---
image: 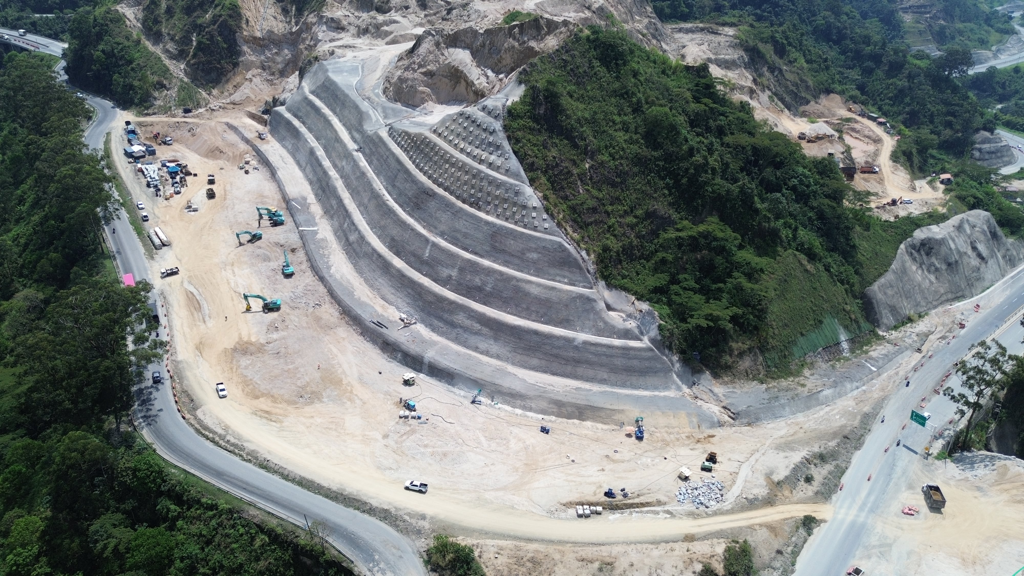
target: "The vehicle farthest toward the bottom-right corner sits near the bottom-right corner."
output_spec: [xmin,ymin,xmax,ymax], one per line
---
[919,481,952,513]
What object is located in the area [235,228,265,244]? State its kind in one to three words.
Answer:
work vehicle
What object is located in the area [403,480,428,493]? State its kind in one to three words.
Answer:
vehicle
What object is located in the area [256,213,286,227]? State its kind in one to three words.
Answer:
work vehicle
